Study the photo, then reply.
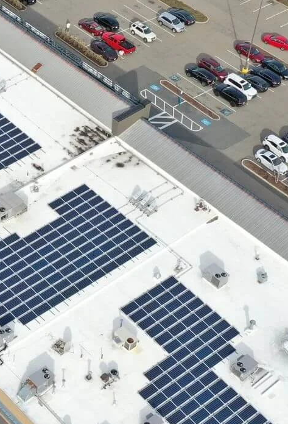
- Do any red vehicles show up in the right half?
Yes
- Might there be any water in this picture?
No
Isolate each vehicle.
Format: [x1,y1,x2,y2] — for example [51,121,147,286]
[262,135,288,162]
[156,11,186,32]
[212,80,248,107]
[92,12,120,32]
[186,66,217,87]
[198,57,228,81]
[233,42,264,63]
[127,20,157,43]
[225,73,258,100]
[240,71,273,94]
[262,58,288,81]
[253,149,288,175]
[88,40,118,62]
[77,18,105,38]
[262,35,288,54]
[101,32,137,57]
[249,64,281,88]
[168,8,195,27]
